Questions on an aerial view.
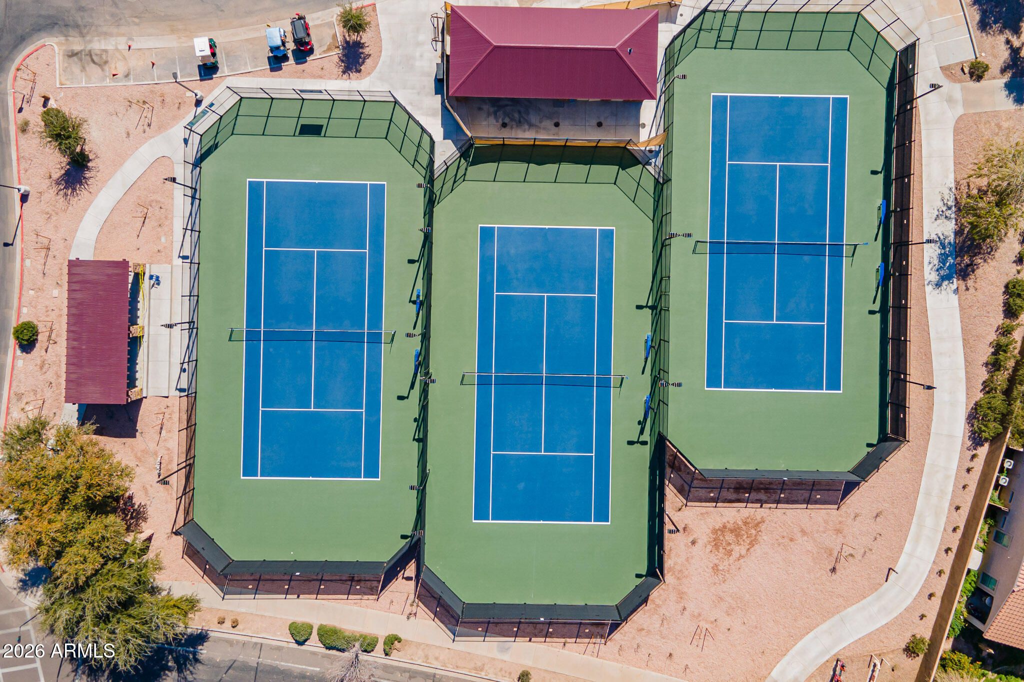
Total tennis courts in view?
three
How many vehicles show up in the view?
3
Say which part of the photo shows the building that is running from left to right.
top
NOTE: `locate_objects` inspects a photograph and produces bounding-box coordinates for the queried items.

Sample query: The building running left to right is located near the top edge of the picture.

[449,5,660,105]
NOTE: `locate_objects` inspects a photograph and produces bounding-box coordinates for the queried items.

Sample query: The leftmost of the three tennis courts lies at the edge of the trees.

[193,98,435,561]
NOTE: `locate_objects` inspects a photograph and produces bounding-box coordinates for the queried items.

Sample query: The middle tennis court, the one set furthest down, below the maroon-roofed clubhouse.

[425,145,662,605]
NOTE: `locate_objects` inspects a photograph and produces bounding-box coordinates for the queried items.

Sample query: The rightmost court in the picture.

[659,12,897,471]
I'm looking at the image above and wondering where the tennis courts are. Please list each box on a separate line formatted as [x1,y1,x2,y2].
[193,98,435,561]
[425,145,662,605]
[659,12,897,471]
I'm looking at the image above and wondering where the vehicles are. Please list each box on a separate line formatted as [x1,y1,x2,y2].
[195,32,222,68]
[266,24,291,60]
[290,13,315,51]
